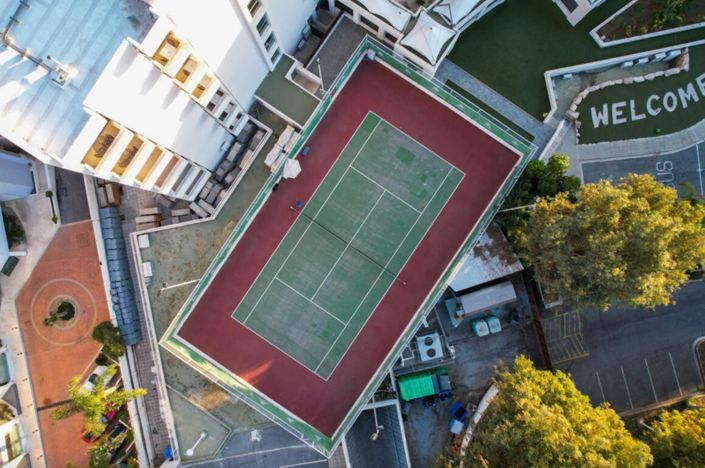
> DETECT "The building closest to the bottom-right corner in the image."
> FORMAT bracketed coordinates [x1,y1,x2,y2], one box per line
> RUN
[461,283,523,318]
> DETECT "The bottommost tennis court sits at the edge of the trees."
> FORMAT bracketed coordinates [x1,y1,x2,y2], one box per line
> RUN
[175,50,523,443]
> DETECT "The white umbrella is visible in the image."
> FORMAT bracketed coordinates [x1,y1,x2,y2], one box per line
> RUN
[280,159,301,179]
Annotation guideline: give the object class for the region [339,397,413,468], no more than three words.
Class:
building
